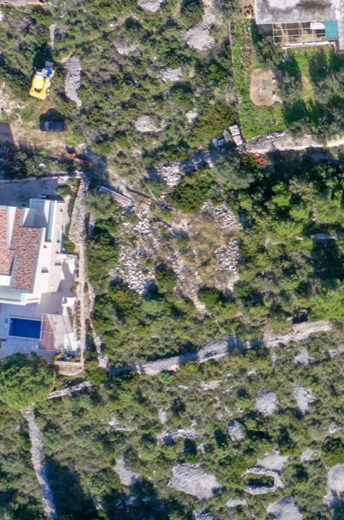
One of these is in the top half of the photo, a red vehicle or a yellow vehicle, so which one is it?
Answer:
yellow vehicle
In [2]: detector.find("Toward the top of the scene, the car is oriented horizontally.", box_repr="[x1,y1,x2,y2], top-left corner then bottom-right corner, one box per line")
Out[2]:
[41,118,70,132]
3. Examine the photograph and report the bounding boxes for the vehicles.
[30,60,59,102]
[41,118,70,132]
